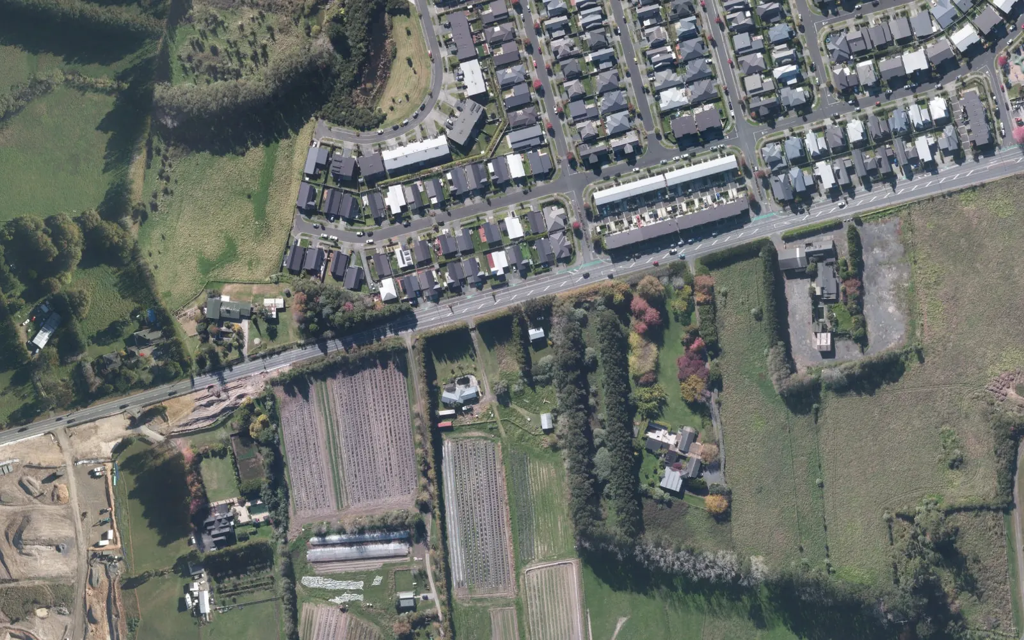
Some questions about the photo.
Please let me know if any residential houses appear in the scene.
Yes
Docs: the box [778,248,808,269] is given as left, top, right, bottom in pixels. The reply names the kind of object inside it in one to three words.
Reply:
building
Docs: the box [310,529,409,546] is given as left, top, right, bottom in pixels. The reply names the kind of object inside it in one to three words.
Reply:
greenhouse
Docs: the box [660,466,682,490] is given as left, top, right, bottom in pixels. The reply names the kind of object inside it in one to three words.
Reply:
shed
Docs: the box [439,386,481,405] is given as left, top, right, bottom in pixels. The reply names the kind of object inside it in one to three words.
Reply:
house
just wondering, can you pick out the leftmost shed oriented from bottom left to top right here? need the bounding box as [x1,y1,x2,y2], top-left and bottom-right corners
[33,315,59,346]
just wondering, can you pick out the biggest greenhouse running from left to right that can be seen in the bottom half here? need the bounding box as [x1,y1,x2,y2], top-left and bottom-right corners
[307,541,409,564]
